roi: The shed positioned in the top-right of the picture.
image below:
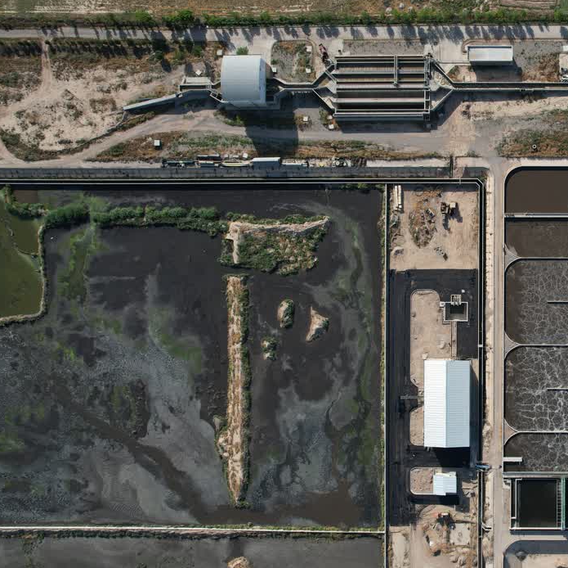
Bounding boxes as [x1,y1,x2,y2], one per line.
[468,45,514,65]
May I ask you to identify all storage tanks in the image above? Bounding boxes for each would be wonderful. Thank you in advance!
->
[334,55,431,119]
[510,476,568,532]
